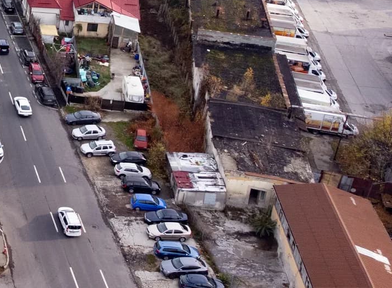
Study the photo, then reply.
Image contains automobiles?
Yes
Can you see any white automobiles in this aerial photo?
Yes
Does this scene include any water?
No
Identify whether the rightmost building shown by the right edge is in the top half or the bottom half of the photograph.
bottom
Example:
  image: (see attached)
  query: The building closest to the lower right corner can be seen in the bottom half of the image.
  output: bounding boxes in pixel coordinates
[270,179,392,288]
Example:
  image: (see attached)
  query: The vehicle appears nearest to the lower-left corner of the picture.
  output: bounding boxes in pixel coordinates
[55,206,82,237]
